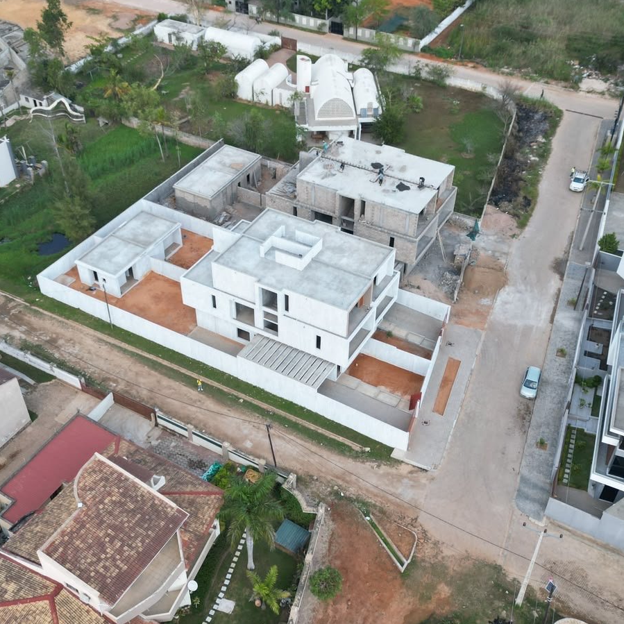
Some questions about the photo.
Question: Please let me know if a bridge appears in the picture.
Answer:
No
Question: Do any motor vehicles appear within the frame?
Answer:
Yes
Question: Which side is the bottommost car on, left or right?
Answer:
right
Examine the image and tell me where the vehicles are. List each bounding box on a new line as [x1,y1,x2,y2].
[570,170,587,194]
[520,364,543,398]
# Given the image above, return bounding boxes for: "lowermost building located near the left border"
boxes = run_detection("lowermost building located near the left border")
[0,411,224,624]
